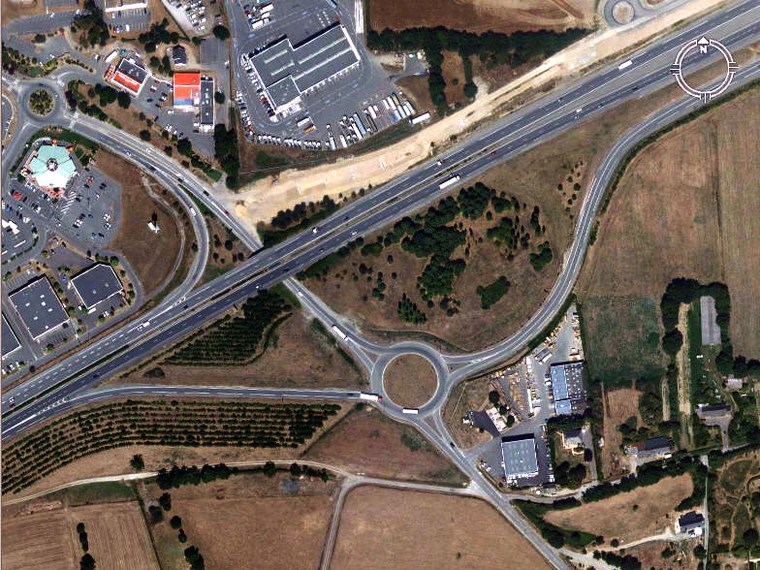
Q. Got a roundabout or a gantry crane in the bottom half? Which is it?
roundabout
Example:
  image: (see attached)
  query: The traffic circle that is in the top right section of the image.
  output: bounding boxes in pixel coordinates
[604,0,643,31]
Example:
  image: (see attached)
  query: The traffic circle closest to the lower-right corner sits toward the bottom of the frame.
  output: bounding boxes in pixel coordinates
[370,341,451,421]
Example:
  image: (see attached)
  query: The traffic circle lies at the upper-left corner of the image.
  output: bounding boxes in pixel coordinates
[19,79,64,125]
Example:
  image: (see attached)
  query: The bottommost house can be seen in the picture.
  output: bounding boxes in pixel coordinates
[678,511,705,533]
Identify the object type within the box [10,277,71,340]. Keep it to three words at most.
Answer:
shed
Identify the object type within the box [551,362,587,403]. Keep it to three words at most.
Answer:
building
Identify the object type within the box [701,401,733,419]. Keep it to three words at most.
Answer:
house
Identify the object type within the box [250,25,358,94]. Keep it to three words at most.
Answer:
building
